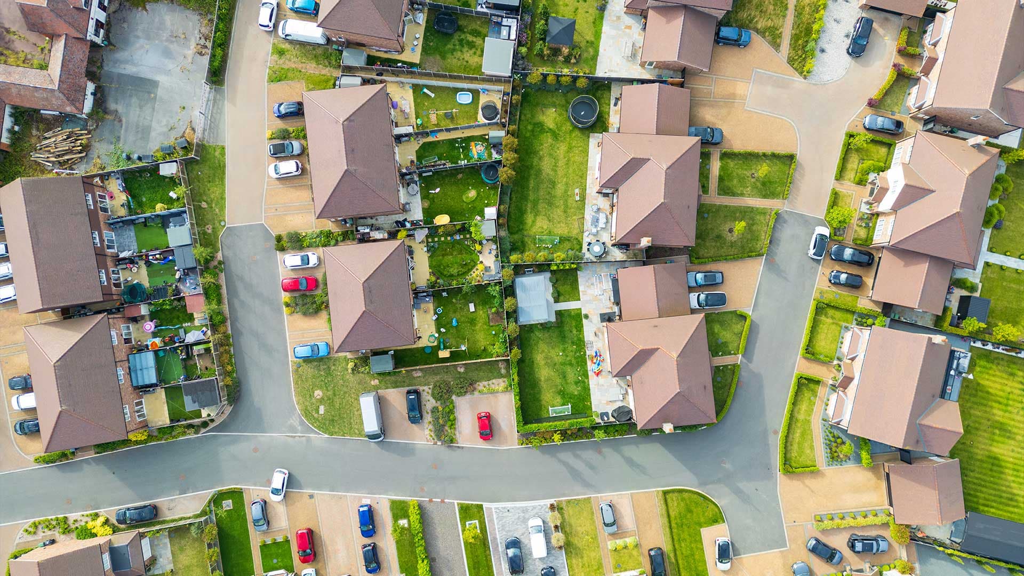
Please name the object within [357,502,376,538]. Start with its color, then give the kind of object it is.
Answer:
blue car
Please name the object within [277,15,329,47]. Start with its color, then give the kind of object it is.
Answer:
white van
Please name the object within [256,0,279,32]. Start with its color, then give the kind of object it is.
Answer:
white car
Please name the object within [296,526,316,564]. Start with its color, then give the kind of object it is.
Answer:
red car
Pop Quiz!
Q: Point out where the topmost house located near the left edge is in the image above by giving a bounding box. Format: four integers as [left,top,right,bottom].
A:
[22,0,112,48]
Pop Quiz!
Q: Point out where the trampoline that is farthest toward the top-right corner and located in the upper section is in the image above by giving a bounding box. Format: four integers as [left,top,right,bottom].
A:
[570,94,600,126]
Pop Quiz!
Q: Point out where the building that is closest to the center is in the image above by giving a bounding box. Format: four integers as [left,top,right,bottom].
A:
[515,275,549,323]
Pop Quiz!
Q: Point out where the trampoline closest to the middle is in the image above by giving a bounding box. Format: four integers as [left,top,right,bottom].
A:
[481,161,500,181]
